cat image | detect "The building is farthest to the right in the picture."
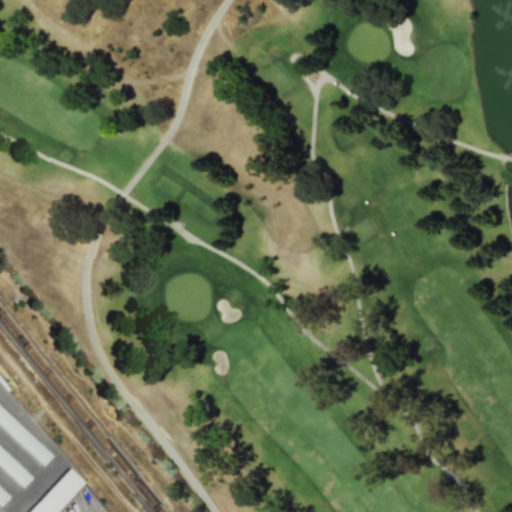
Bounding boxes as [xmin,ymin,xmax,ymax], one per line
[34,469,86,512]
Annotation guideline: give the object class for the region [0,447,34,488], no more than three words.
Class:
building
